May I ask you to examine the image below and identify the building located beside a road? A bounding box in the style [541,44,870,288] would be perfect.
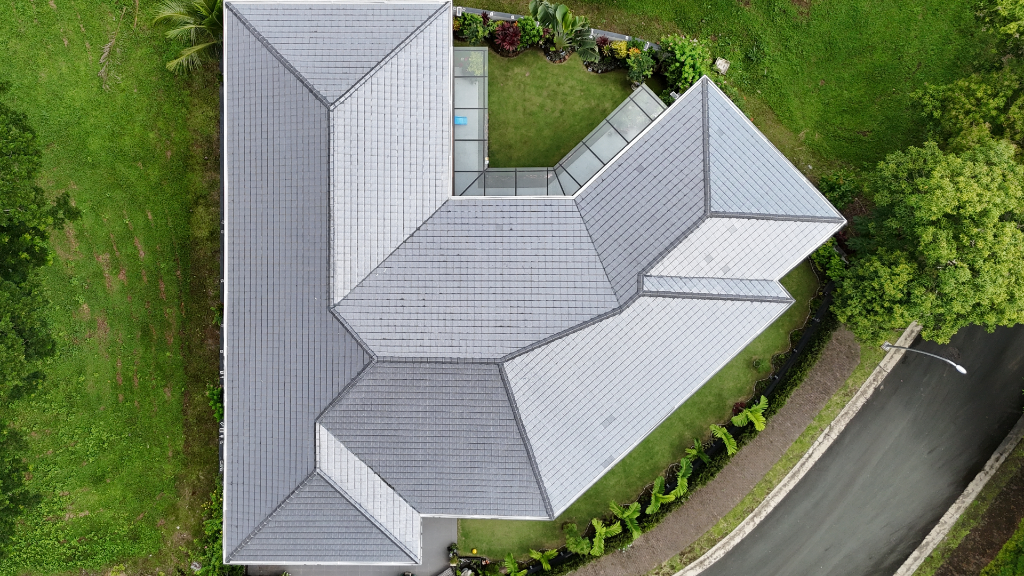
[223,0,846,564]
